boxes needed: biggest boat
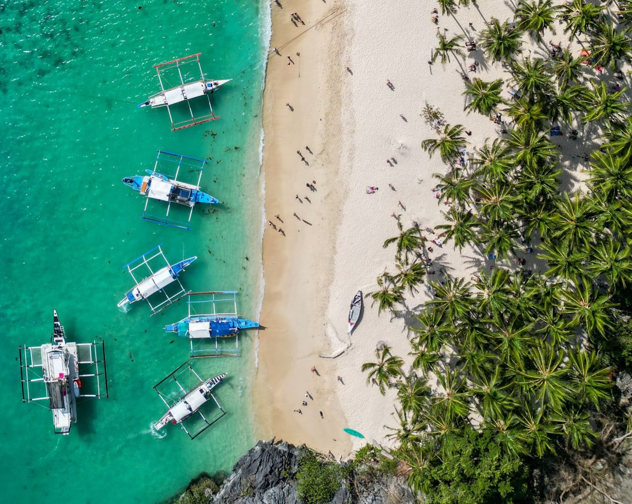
[19,306,109,436]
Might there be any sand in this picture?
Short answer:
Yes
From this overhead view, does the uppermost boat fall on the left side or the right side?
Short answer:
left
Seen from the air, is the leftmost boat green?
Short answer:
No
